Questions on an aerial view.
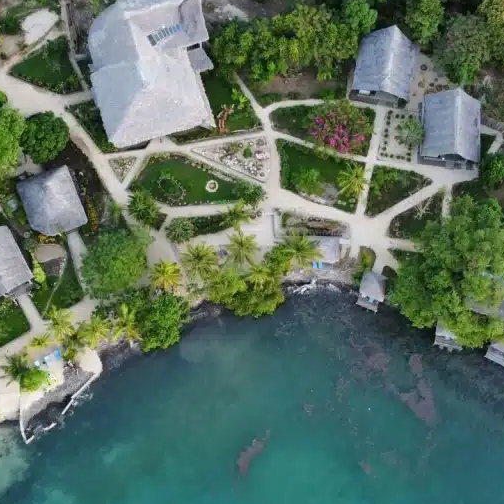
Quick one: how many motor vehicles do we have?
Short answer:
0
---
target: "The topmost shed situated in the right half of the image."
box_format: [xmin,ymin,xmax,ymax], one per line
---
[348,24,418,110]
